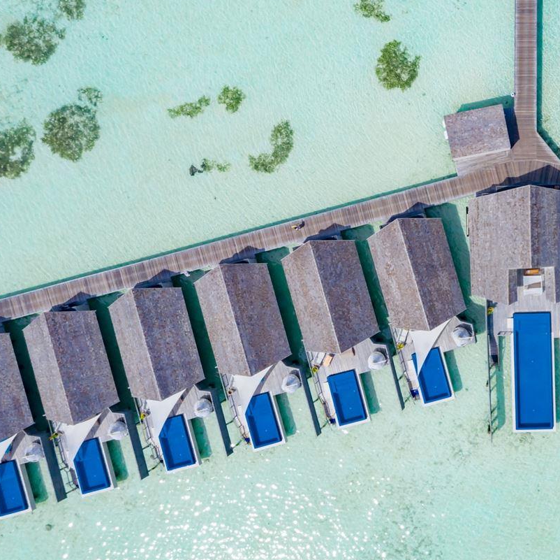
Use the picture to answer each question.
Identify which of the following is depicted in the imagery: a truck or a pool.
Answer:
pool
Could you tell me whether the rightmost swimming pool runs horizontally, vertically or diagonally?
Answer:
vertically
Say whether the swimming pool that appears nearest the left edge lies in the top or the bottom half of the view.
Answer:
bottom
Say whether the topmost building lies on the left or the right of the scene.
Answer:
right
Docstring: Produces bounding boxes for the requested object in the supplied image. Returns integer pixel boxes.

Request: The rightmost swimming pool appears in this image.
[508,311,556,432]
